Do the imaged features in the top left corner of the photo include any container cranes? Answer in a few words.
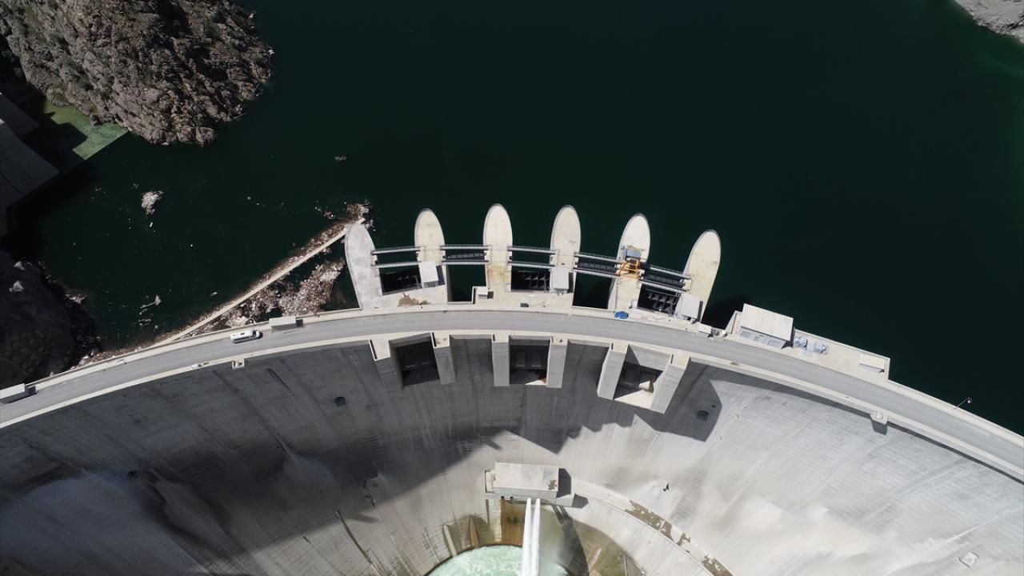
No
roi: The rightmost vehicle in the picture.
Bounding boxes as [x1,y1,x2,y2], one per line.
[228,328,263,344]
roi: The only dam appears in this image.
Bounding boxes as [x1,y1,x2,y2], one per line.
[0,203,1024,576]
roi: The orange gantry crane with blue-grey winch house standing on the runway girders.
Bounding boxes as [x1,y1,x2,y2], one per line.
[617,245,645,284]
